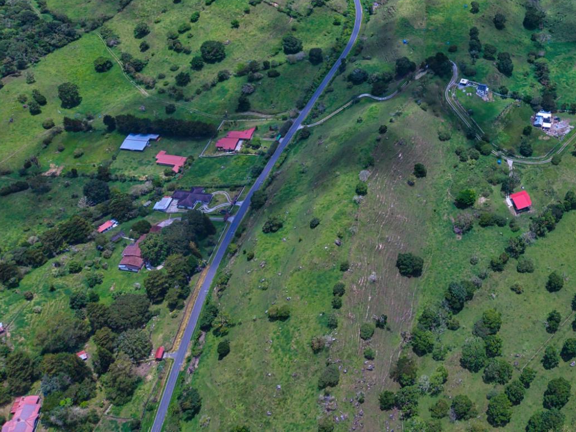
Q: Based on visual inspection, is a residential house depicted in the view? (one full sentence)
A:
Yes, a residential house appears in the view.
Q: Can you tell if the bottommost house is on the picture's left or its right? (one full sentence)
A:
The bottommost house appears in the left half of the scene.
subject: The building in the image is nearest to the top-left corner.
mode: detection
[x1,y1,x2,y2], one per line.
[118,135,160,154]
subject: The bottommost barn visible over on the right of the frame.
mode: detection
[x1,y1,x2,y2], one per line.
[506,190,536,214]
